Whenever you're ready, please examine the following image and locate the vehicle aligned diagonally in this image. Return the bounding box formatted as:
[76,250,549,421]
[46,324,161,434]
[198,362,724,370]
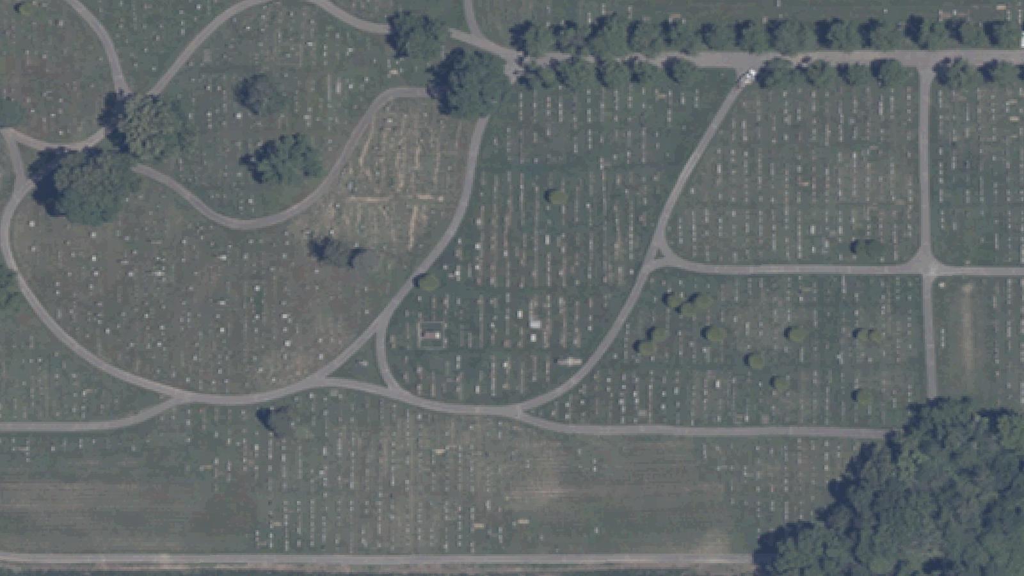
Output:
[743,67,757,85]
